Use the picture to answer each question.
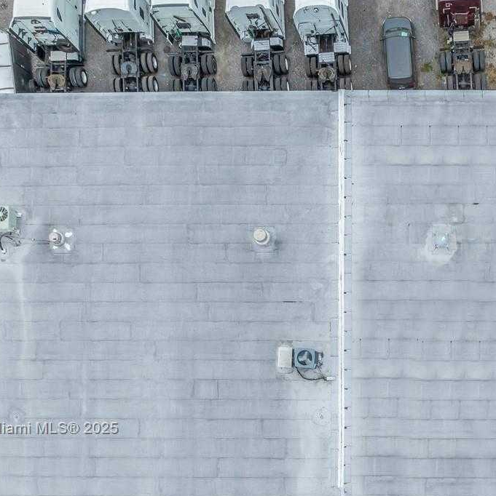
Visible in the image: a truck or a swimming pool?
truck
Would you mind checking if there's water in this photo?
No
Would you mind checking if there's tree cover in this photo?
No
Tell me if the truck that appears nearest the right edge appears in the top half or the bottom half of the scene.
top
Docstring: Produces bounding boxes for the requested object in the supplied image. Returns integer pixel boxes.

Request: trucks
[151,0,220,91]
[86,0,160,91]
[228,0,289,90]
[440,0,486,91]
[295,0,352,90]
[7,0,89,91]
